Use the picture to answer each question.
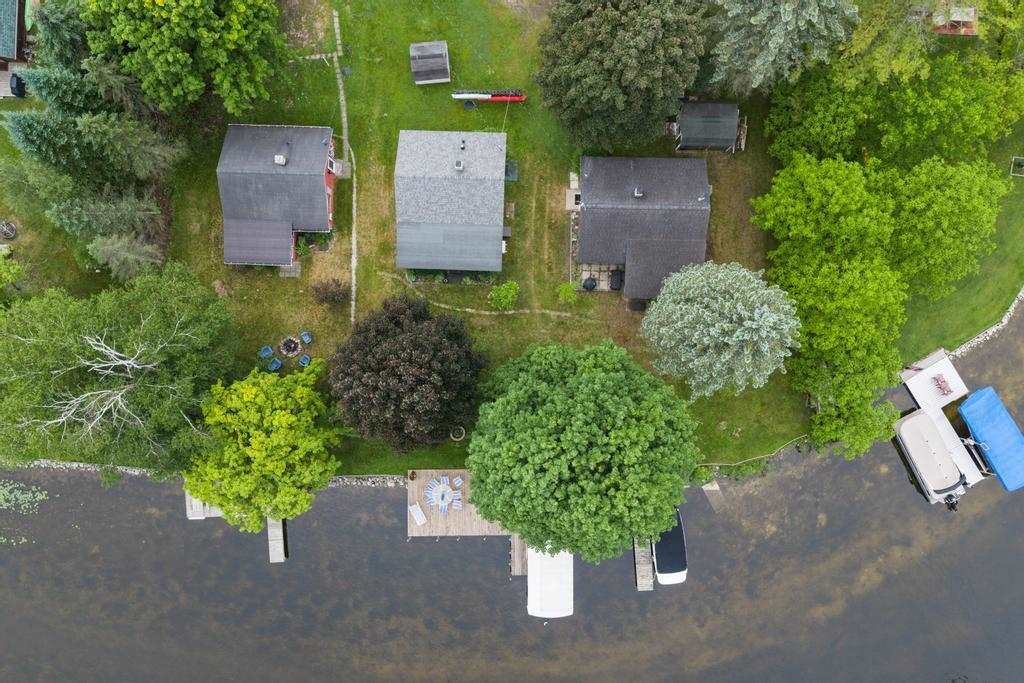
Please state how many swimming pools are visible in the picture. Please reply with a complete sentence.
No swimming pools are visible.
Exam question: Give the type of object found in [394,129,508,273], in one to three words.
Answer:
house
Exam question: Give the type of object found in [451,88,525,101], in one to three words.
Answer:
boat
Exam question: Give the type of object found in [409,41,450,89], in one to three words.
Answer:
shed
